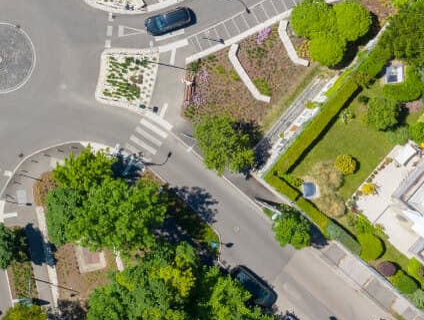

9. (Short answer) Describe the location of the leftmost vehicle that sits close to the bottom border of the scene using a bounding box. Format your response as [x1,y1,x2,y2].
[231,261,276,309]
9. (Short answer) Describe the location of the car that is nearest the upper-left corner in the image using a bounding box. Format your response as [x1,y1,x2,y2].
[143,6,194,36]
